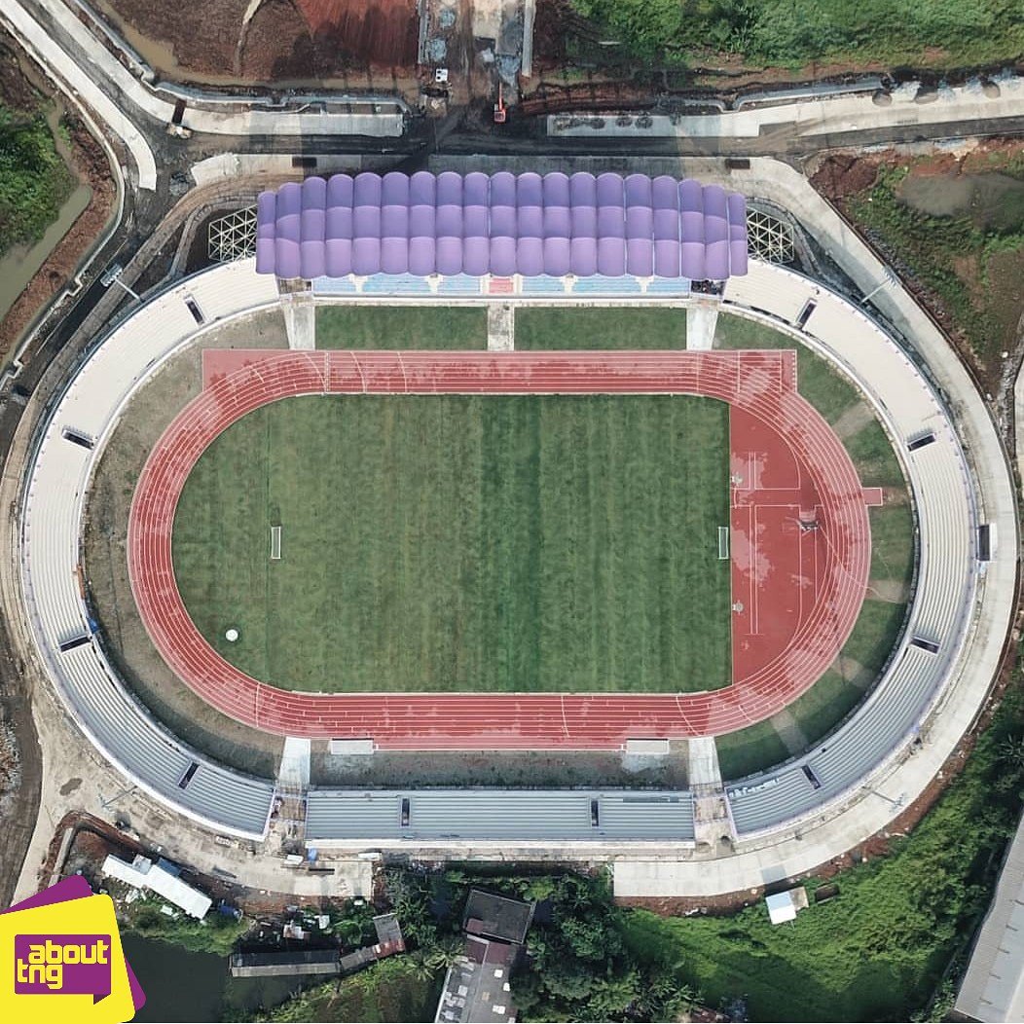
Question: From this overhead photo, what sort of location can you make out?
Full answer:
What you see here is a sports ground.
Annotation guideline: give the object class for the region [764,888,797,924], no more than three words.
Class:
shed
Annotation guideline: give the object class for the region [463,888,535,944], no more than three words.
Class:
house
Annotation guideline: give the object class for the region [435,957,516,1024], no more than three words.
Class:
house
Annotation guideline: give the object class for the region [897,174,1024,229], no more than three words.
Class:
pond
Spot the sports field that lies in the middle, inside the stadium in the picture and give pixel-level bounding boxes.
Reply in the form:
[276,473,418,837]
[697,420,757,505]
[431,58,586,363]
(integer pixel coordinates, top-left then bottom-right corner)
[175,395,733,691]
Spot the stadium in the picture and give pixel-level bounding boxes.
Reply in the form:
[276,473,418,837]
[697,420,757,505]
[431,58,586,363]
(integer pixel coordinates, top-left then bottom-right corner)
[16,170,994,851]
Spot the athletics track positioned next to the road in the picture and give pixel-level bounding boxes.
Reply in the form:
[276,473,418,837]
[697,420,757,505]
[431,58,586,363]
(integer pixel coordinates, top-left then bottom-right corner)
[127,348,883,755]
